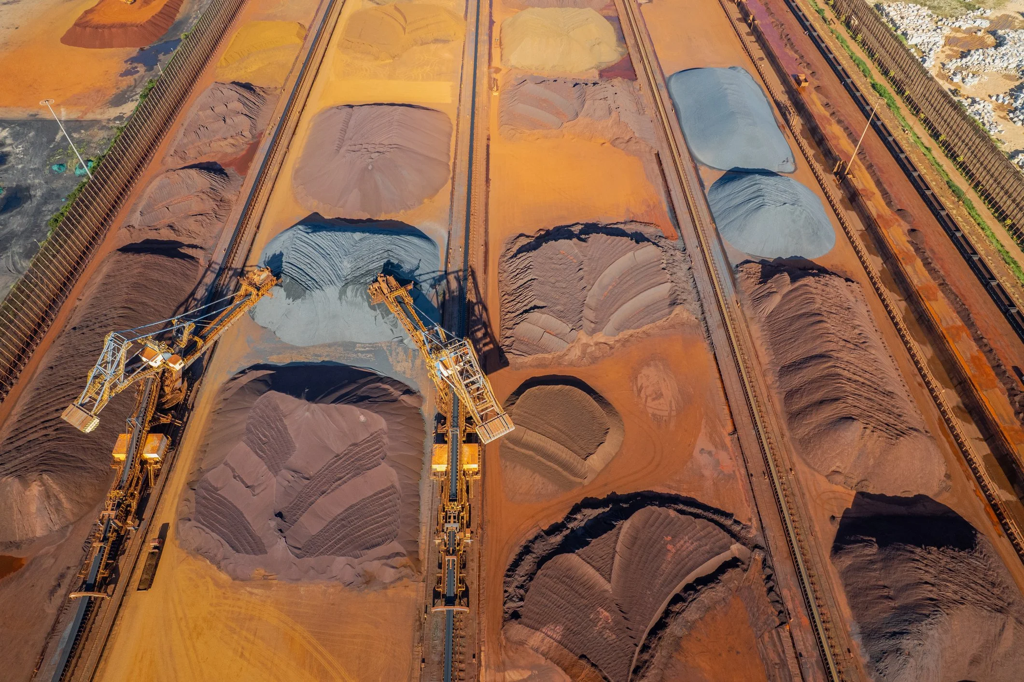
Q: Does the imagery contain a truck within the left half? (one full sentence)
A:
Yes, a truck can be seen within the left half.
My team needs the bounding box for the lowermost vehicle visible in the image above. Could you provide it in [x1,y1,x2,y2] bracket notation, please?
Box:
[134,539,169,602]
